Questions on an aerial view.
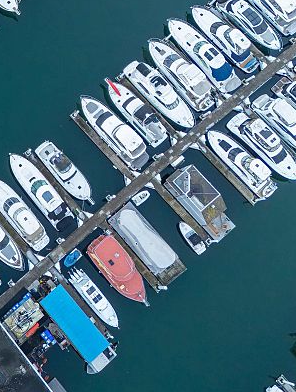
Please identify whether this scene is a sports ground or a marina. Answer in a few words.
marina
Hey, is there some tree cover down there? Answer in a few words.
No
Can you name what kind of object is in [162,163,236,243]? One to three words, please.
building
